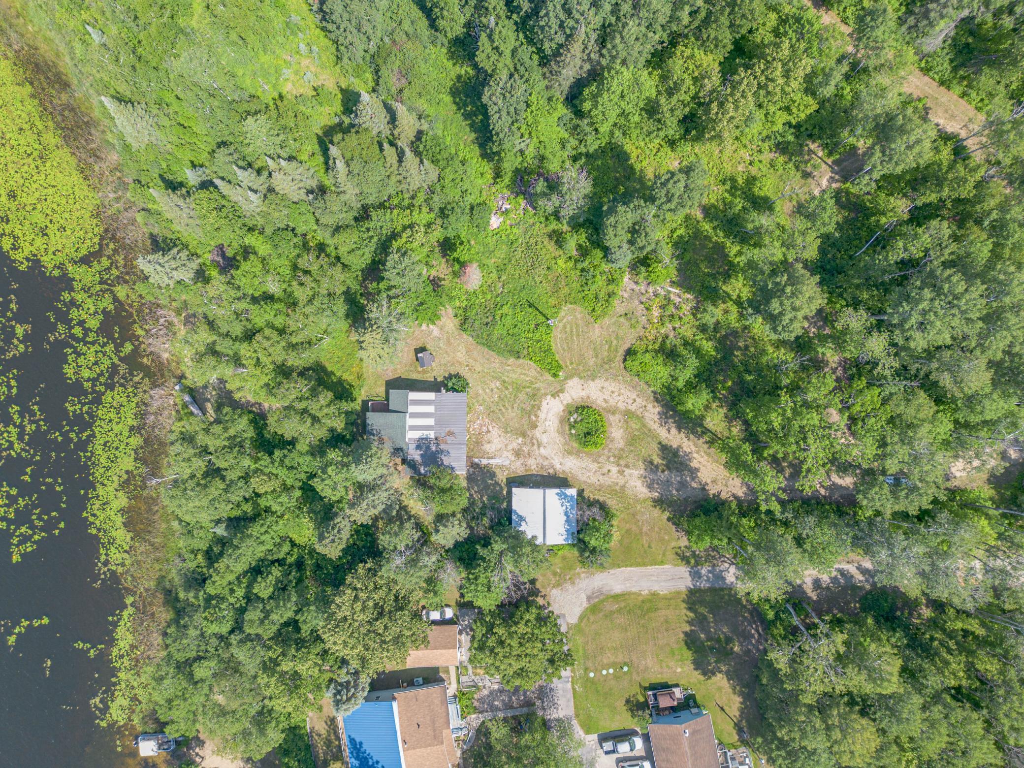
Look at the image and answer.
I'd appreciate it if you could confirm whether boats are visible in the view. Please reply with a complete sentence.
Yes, I can see a boat in this picture.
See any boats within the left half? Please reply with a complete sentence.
Yes, looking within the left half, one can make out a boat.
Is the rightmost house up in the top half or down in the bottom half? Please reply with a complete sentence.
The rightmost house is in the bottom half of the image.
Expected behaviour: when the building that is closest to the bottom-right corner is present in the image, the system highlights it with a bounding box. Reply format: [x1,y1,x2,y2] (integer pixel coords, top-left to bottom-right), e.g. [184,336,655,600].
[647,708,720,768]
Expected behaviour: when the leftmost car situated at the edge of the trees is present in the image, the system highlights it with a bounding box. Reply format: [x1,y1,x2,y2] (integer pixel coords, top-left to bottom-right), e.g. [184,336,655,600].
[422,607,453,623]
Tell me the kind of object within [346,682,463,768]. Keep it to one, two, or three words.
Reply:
house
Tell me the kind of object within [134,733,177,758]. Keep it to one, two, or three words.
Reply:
boat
